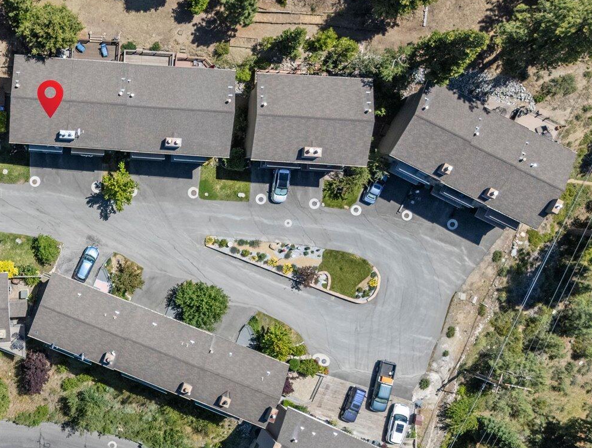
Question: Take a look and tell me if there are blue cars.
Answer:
Yes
